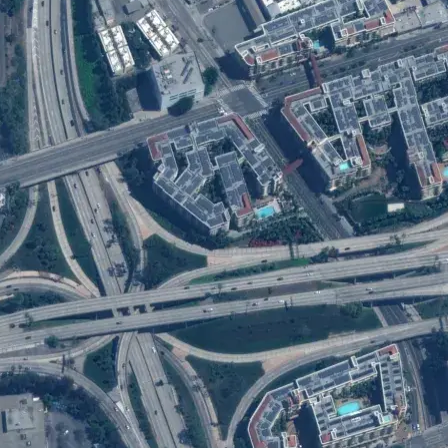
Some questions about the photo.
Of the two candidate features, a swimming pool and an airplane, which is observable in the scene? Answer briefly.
swimming pool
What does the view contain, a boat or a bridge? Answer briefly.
bridge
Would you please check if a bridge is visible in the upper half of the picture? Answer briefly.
Yes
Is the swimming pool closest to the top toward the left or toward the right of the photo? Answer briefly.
right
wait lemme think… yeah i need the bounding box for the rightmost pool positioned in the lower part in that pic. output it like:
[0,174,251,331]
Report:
[382,411,395,430]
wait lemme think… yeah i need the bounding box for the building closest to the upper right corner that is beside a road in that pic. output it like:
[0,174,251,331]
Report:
[428,0,448,26]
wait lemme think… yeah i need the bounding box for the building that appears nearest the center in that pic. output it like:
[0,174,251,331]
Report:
[146,108,282,236]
